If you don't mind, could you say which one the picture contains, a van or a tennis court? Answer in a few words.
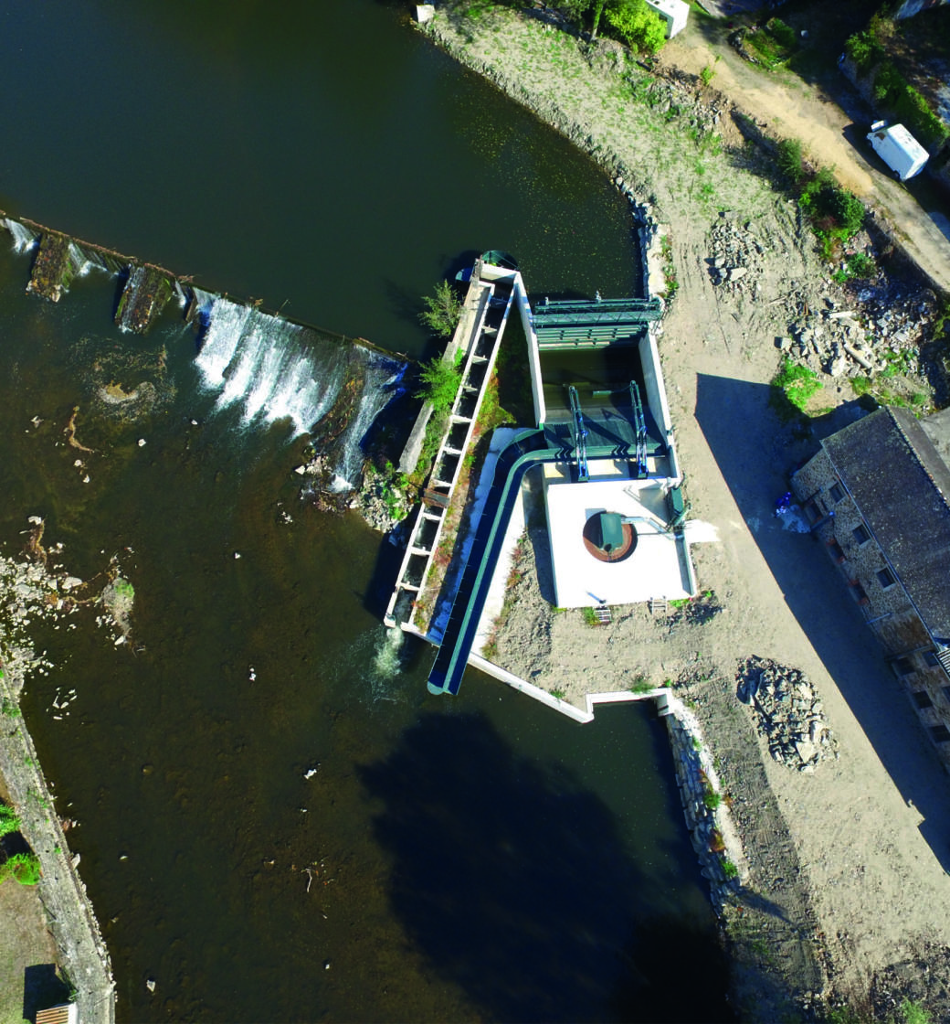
van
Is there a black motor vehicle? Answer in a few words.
No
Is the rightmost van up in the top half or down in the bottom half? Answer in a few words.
top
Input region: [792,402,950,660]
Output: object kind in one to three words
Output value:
house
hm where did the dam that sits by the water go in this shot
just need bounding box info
[0,212,413,505]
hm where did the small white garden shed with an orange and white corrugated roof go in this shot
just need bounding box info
[34,995,89,1024]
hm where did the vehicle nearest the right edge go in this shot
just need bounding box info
[870,124,930,179]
